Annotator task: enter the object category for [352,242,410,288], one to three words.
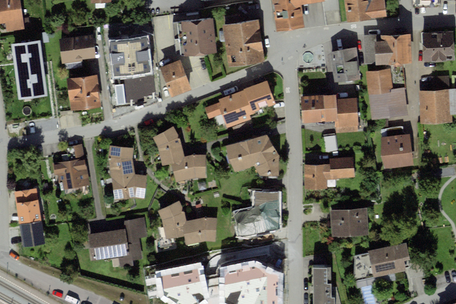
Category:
house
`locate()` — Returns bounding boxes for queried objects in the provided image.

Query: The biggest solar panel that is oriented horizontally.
[92,244,127,258]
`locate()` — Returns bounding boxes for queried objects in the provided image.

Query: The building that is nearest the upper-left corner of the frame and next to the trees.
[0,0,30,32]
